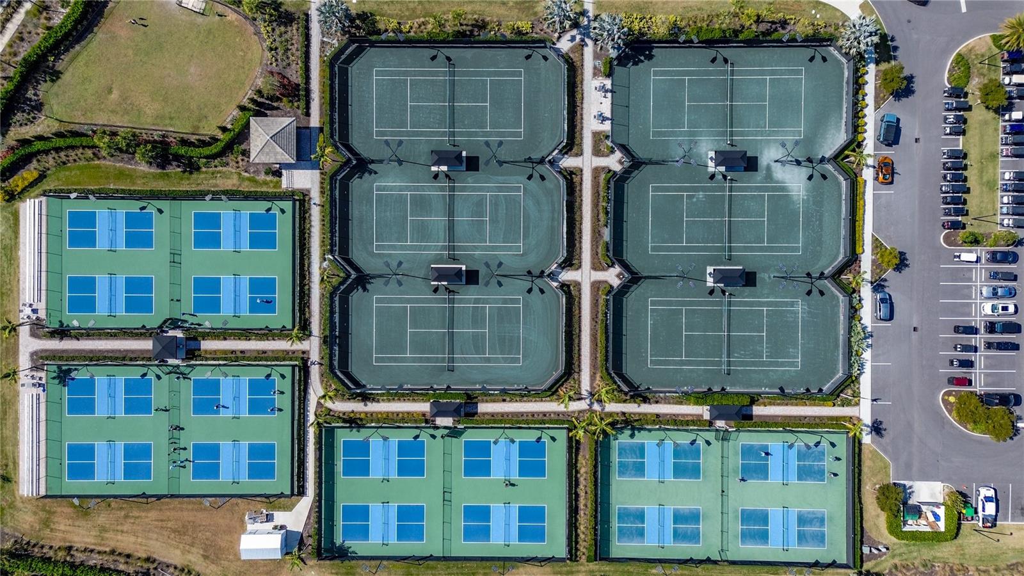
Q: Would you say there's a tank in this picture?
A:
No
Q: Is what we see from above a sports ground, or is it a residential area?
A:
sports ground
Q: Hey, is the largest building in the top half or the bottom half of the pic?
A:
top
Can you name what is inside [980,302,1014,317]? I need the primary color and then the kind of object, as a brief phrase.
white car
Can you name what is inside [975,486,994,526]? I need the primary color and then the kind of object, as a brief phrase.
white vehicle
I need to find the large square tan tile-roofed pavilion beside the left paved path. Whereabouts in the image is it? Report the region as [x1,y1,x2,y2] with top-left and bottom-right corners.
[249,117,300,165]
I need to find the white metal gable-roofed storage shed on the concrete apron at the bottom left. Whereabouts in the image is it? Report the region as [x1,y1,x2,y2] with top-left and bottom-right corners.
[237,529,286,560]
